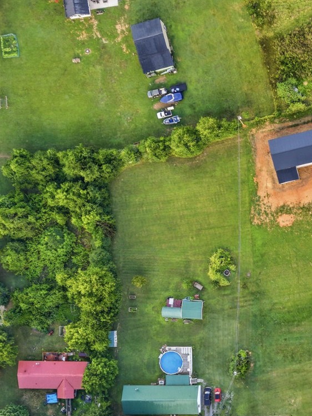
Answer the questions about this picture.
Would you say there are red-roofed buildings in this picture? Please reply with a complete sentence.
Yes, there is a red-roofed building in the image.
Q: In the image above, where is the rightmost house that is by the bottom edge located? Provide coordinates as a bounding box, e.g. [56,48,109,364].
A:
[120,374,201,415]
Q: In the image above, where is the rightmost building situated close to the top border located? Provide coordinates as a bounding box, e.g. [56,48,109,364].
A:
[131,19,174,75]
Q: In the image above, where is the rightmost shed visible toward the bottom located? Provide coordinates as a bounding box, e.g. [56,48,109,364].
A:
[182,301,204,319]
